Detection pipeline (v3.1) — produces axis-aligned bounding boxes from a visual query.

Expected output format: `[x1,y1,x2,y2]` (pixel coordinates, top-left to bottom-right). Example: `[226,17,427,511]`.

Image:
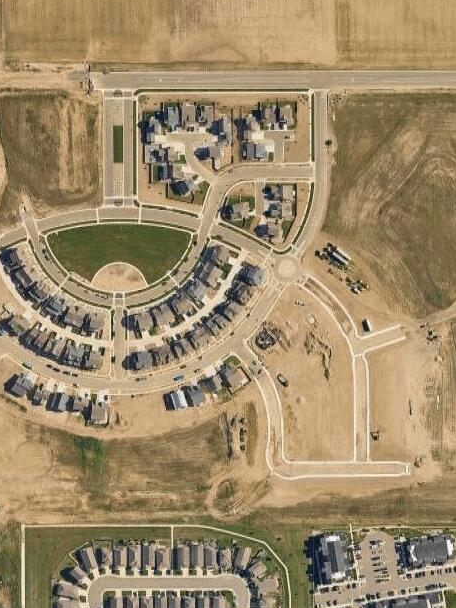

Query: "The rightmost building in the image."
[408,535,456,568]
